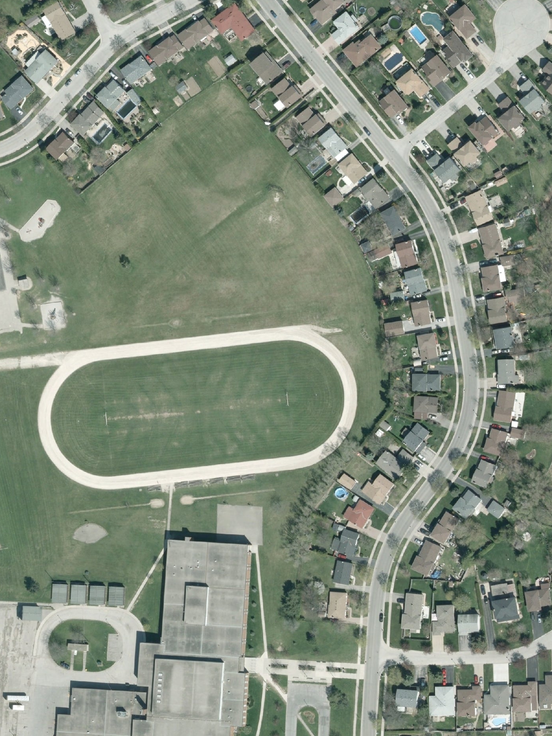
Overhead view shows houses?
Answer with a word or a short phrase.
Yes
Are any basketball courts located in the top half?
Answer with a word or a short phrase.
No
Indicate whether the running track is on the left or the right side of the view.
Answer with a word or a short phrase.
left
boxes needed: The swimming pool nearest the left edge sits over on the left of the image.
[89,125,114,144]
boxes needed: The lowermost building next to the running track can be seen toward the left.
[56,538,250,736]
